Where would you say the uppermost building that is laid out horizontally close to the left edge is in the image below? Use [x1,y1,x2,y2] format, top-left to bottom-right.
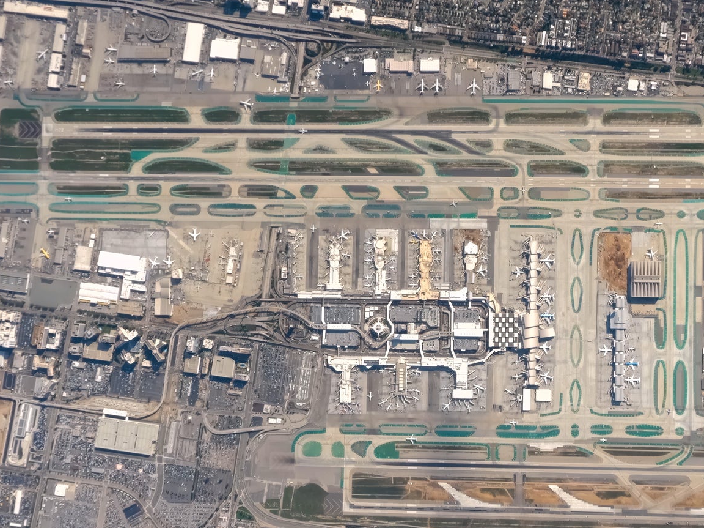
[3,1,69,19]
